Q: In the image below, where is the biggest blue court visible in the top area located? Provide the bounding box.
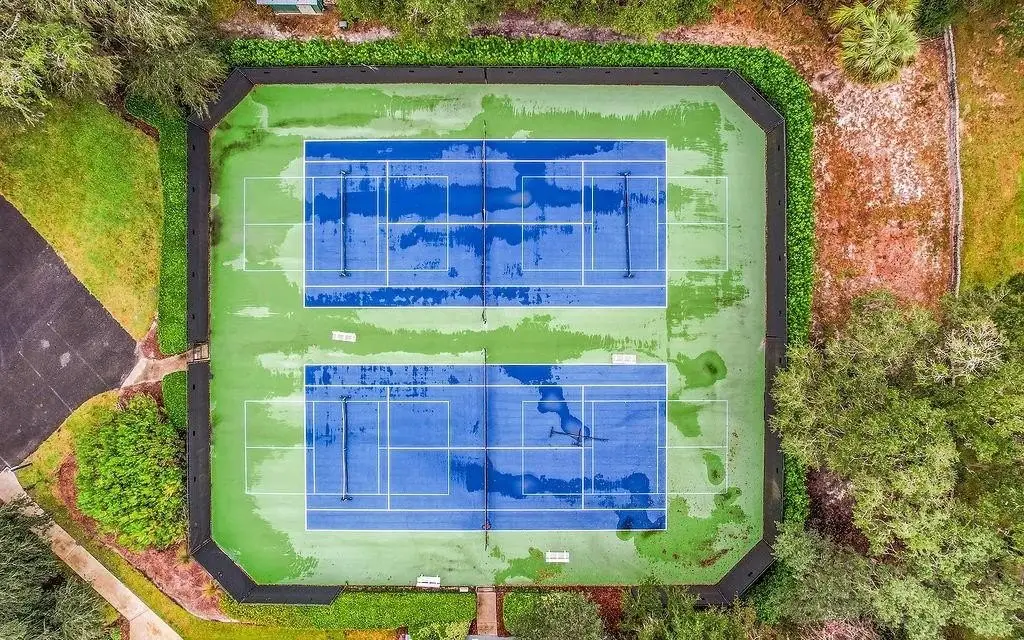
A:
[303,139,667,307]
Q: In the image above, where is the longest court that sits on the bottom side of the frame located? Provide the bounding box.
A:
[304,364,668,531]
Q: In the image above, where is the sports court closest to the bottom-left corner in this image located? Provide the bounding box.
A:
[245,401,449,495]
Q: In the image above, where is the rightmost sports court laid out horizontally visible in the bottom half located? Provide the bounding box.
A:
[522,401,729,494]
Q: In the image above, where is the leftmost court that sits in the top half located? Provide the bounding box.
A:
[244,177,448,271]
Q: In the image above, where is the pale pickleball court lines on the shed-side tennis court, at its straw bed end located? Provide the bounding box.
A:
[522,177,729,271]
